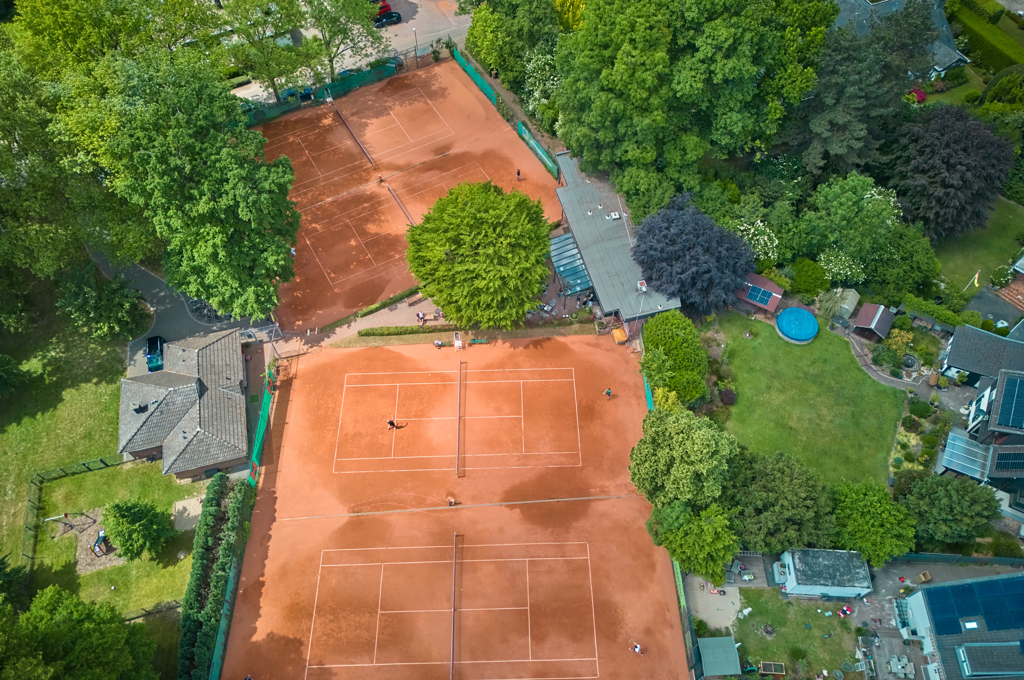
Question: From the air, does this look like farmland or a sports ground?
sports ground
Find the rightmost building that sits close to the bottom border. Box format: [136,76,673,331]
[897,572,1024,680]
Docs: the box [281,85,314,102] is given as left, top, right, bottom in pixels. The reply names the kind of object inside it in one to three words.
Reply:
car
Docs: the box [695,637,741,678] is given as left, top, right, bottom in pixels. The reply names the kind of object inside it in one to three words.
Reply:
shed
